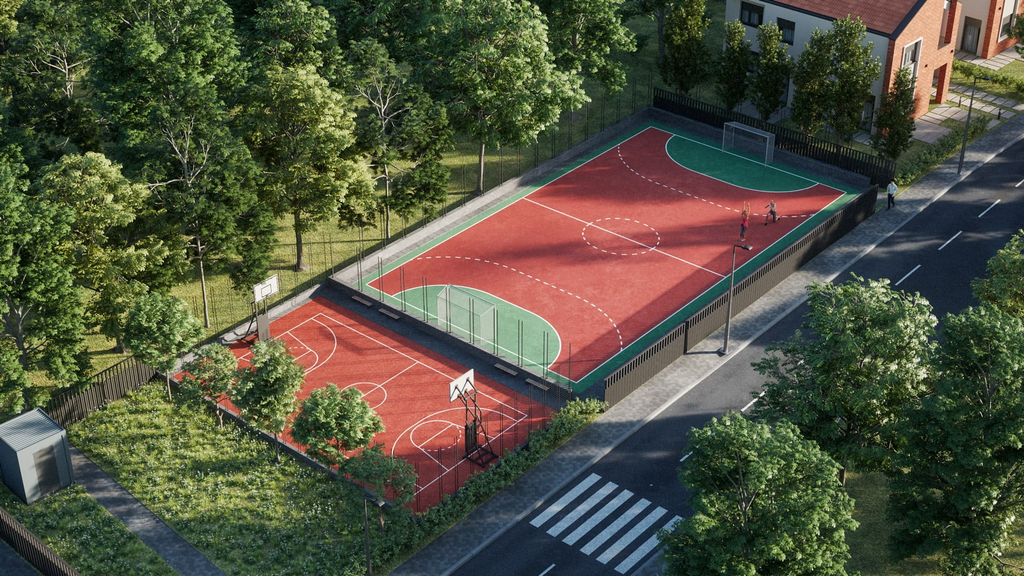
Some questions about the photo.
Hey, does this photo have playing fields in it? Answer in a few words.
Yes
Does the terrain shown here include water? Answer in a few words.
No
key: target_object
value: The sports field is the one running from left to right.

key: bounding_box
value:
[366,127,845,383]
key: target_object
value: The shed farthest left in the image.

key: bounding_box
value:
[0,408,71,504]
